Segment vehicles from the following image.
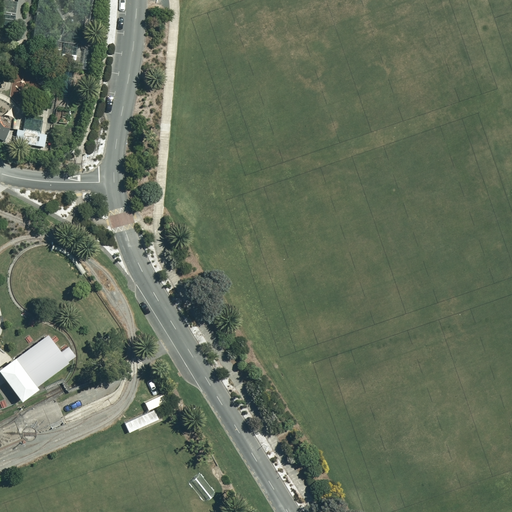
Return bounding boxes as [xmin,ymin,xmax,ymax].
[118,0,125,12]
[147,380,158,396]
[116,16,124,30]
[105,96,113,111]
[140,302,150,315]
[64,400,82,412]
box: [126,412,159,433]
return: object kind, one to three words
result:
shed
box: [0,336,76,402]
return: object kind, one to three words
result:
building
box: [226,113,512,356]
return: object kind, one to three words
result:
sports field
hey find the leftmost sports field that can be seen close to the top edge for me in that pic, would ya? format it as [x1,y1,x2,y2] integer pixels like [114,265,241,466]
[192,0,498,175]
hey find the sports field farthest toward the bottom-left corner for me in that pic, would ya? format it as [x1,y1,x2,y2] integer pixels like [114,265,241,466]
[0,446,184,512]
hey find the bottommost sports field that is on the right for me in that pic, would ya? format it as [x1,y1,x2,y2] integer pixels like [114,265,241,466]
[312,294,512,512]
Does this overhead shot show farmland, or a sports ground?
sports ground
